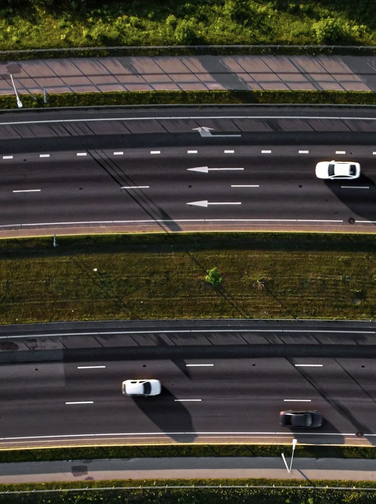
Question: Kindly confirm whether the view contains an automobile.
Yes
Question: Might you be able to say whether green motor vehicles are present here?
No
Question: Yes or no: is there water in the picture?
No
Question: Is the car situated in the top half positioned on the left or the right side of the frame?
right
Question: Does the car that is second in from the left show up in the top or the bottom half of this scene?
bottom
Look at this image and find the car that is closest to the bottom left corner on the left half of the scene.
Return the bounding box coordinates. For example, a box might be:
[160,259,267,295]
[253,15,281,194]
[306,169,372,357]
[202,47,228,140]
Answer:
[122,379,161,398]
